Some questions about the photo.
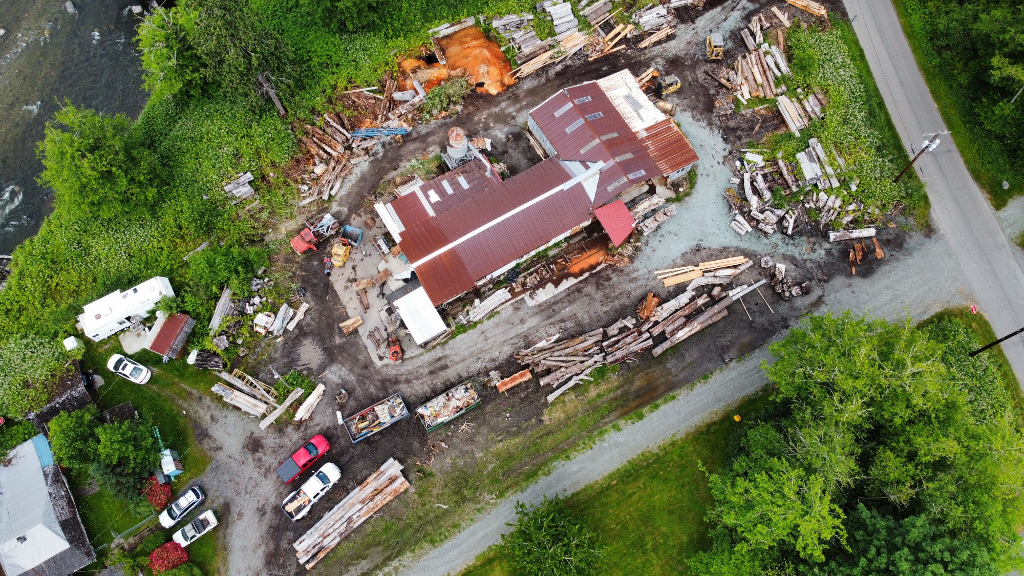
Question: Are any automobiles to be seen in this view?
Yes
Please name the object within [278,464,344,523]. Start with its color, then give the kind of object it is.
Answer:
white truck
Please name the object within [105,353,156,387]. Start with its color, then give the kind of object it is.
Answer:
white car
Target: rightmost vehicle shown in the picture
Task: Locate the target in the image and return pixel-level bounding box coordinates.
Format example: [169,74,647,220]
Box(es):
[705,33,725,72]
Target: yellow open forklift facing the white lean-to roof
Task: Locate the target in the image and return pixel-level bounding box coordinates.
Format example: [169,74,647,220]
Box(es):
[649,74,684,100]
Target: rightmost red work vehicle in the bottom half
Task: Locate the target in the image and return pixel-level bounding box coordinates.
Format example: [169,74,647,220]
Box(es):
[385,335,405,363]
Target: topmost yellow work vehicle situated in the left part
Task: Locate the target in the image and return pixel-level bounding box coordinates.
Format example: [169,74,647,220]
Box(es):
[328,238,353,269]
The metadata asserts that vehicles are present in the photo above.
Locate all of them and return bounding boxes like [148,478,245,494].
[328,238,353,269]
[80,371,99,394]
[290,215,342,258]
[158,484,206,530]
[278,464,344,523]
[385,335,405,363]
[105,353,156,387]
[649,74,684,100]
[705,33,725,72]
[174,507,221,548]
[273,435,333,487]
